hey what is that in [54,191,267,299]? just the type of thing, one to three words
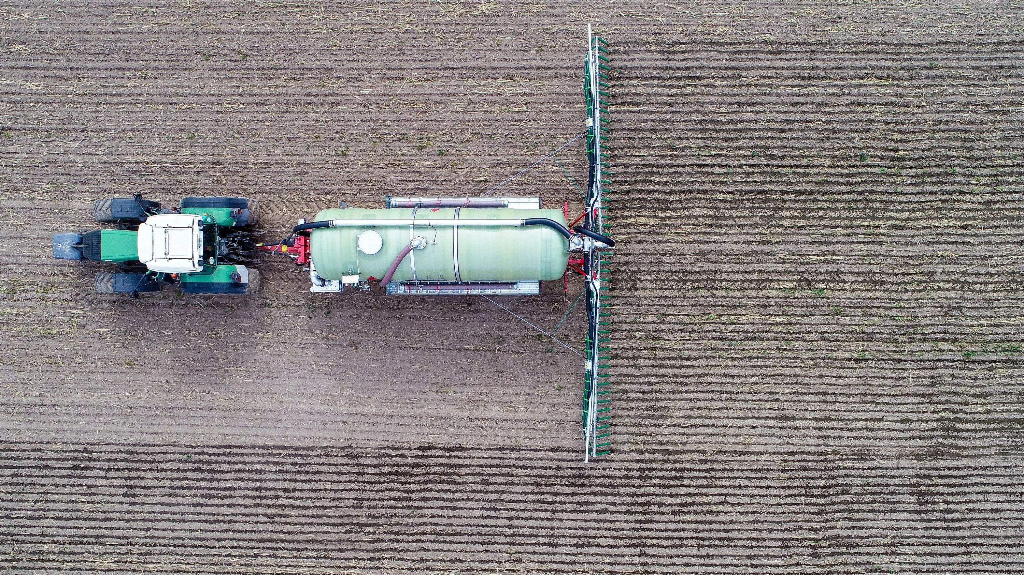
work vehicle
